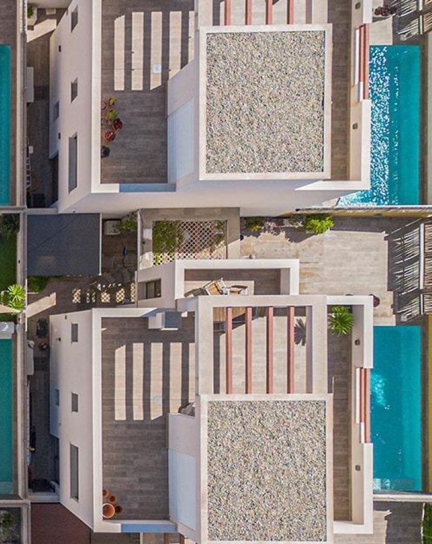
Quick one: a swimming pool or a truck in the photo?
swimming pool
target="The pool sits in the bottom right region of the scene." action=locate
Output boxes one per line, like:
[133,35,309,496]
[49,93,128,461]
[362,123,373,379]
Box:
[359,324,422,488]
